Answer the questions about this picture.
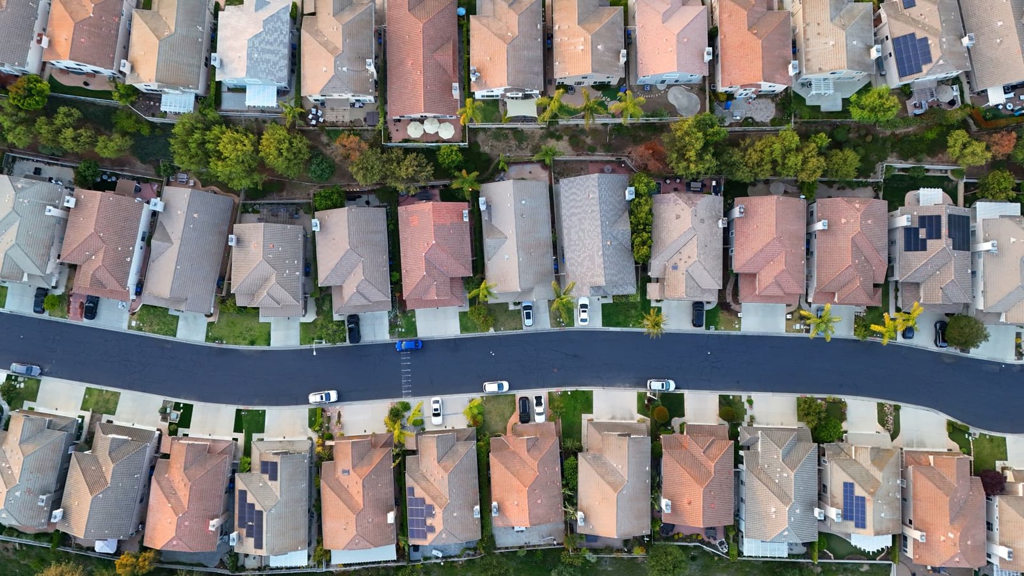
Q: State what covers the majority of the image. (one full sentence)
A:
The scene is dominated by buildings.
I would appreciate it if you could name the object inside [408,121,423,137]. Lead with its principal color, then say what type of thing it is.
white umbrella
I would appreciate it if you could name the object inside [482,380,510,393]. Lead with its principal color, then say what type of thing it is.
white vehicle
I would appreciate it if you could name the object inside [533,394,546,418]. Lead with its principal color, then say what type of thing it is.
white vehicle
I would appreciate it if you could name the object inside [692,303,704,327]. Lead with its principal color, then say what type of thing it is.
black vehicle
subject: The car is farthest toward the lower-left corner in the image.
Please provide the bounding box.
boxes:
[11,362,44,378]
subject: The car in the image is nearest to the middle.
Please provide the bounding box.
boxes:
[521,300,534,327]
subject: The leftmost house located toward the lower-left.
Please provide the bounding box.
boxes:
[0,399,82,527]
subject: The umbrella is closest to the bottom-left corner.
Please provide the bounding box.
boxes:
[98,541,114,553]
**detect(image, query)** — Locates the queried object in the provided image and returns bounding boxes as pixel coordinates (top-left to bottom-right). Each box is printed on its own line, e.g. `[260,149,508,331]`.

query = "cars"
[932,319,948,348]
[11,362,44,378]
[346,314,361,344]
[517,396,531,419]
[31,285,52,316]
[482,380,510,393]
[692,303,704,327]
[900,314,915,342]
[429,396,444,425]
[521,300,534,327]
[308,389,340,404]
[85,303,99,320]
[645,377,676,393]
[395,339,423,352]
[577,297,590,326]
